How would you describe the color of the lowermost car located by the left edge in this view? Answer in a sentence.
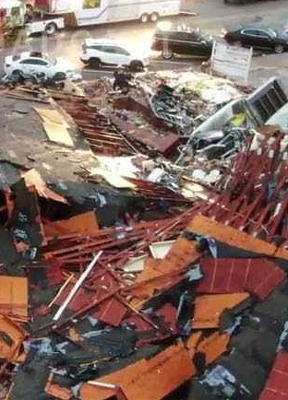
The lowermost car located by the left edge looks white in the image.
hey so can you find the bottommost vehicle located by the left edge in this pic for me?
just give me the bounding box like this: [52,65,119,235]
[0,48,77,78]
